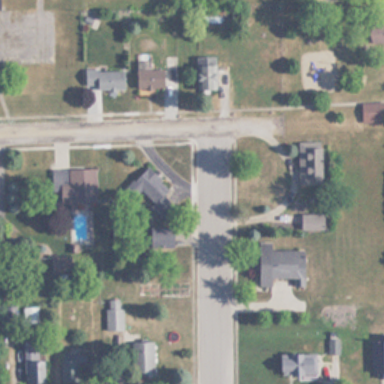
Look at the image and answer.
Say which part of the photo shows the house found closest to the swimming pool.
left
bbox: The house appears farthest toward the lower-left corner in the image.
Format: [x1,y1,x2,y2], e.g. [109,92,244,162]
[24,352,46,384]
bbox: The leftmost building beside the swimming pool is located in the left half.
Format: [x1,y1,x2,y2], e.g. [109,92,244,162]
[52,168,97,210]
